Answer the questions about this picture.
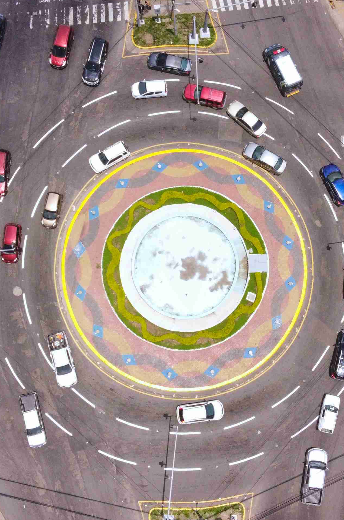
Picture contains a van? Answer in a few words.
Yes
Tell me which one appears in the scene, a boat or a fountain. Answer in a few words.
fountain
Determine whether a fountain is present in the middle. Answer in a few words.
Yes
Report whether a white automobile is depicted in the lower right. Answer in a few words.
Yes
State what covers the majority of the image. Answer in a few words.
paved ground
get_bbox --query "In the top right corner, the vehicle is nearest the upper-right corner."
[267,43,302,101]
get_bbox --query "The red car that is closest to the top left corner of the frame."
[51,27,74,69]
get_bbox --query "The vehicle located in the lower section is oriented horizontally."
[176,399,225,424]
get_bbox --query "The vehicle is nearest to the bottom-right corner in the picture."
[302,445,328,507]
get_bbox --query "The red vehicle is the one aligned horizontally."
[181,84,227,110]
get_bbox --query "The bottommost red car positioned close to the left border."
[0,223,22,264]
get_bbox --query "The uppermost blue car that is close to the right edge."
[323,165,344,206]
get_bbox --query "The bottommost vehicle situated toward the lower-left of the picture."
[18,390,47,448]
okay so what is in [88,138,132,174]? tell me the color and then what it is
white car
